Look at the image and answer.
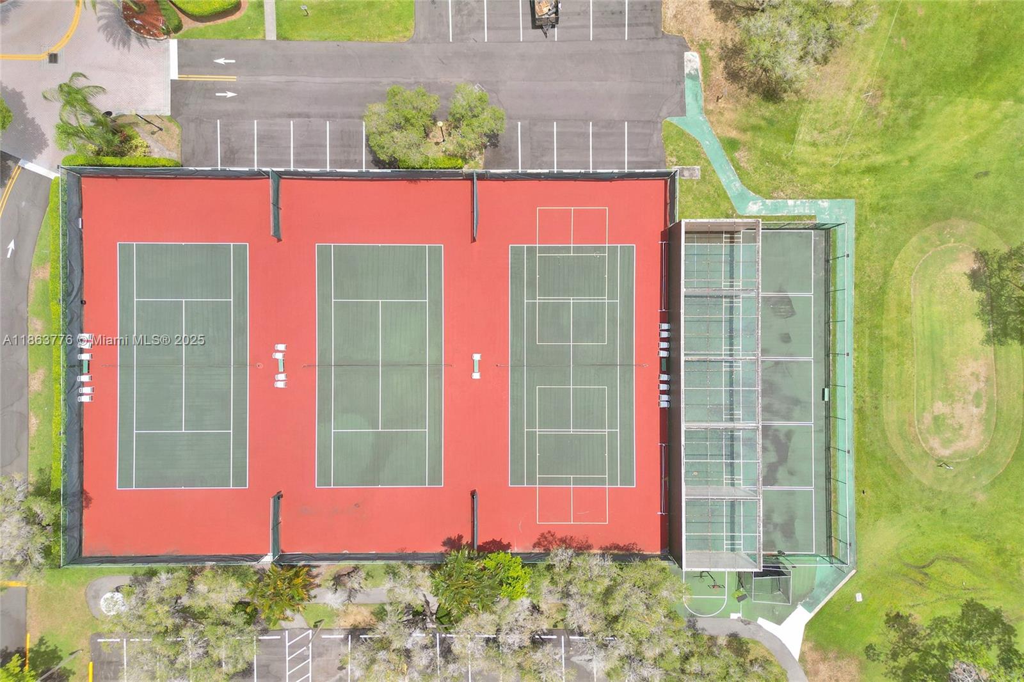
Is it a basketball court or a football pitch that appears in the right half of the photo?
basketball court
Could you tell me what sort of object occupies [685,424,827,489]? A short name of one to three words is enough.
sports court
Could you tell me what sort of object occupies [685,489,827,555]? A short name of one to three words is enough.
sports court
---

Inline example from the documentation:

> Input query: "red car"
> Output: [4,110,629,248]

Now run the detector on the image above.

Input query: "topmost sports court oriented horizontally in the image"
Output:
[667,228,827,294]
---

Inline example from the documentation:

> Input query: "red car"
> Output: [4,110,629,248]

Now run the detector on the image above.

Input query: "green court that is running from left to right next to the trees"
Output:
[668,555,827,625]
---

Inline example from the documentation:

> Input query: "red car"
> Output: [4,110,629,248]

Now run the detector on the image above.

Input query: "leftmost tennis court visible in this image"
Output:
[85,179,279,554]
